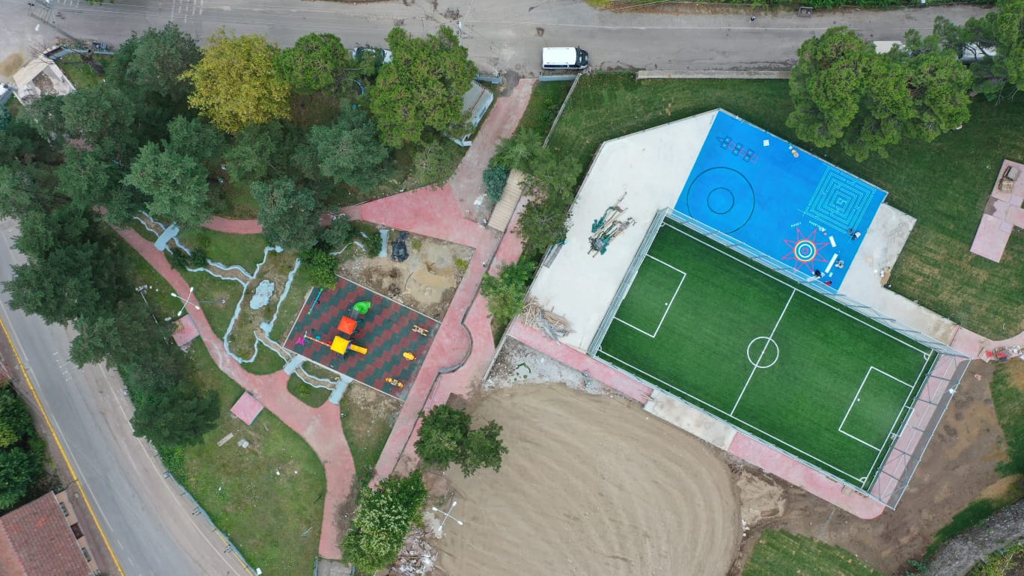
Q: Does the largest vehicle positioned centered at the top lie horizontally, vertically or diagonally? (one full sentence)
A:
The largest vehicle positioned centered at the top is oriented horizontally.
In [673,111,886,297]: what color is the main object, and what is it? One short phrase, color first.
blue sports court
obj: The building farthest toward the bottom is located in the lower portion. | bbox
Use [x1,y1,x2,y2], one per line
[0,486,112,576]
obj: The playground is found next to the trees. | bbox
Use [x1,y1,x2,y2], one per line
[285,278,440,401]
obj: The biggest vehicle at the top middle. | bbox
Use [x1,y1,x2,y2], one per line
[543,47,588,69]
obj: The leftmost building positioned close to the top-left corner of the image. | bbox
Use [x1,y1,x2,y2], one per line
[11,55,73,109]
